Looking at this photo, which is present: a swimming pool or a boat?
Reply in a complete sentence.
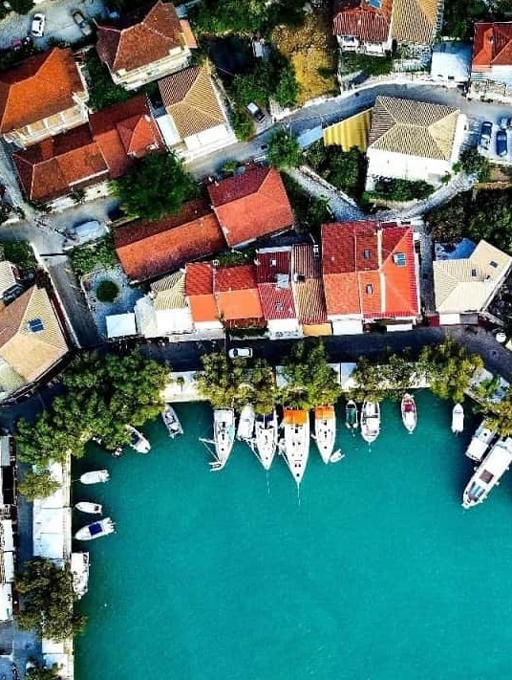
There is a boat in the scene.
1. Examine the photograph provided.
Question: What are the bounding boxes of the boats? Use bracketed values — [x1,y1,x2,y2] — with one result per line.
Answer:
[312,405,337,464]
[122,422,150,452]
[245,409,279,477]
[75,501,104,515]
[236,406,254,441]
[462,435,512,512]
[275,407,311,486]
[73,551,90,599]
[360,401,381,446]
[451,399,465,436]
[196,402,234,470]
[206,462,218,470]
[74,517,117,546]
[330,450,343,463]
[277,435,284,451]
[72,469,112,485]
[401,393,417,436]
[345,393,358,432]
[465,421,495,459]
[163,407,183,438]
